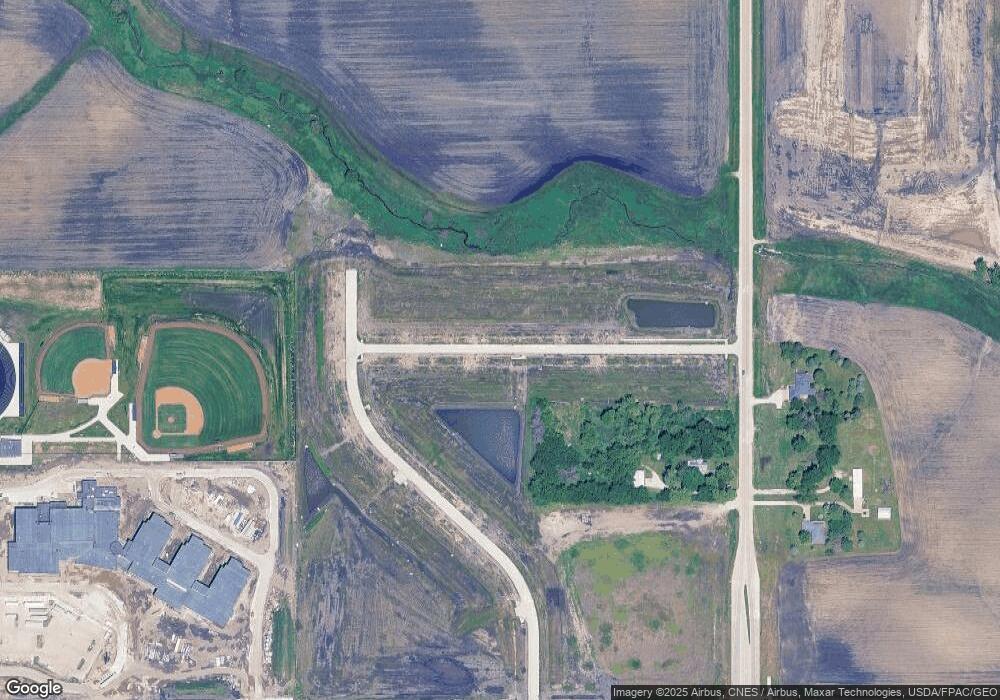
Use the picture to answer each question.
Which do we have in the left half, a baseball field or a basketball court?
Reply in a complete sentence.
The one visible in the left half is a baseball field.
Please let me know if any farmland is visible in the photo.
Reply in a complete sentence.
Yes, the picture does contain farmland.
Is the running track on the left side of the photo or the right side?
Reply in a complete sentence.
The running track sits on the left side.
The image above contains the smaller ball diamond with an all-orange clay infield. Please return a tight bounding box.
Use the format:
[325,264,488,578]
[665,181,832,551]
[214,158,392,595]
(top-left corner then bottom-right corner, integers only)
[36,322,115,402]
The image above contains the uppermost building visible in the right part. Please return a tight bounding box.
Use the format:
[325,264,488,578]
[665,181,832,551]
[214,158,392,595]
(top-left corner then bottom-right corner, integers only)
[789,372,815,402]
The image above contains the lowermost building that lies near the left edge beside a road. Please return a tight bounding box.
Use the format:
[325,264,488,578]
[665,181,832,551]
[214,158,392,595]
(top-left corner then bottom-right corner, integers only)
[7,479,250,628]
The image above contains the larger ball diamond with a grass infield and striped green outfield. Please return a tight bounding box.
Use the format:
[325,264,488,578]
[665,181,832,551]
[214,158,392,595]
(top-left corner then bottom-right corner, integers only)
[136,321,269,454]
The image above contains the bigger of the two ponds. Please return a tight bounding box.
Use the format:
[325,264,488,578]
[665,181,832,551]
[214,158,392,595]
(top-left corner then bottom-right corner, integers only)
[438,409,520,483]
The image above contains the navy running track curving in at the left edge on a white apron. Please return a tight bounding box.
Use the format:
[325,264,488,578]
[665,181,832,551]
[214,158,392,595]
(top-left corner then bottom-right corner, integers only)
[0,328,24,420]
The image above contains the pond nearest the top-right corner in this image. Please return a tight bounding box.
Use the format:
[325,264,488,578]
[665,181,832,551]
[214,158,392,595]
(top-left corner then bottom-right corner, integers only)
[628,299,716,327]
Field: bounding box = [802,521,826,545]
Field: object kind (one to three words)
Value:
house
